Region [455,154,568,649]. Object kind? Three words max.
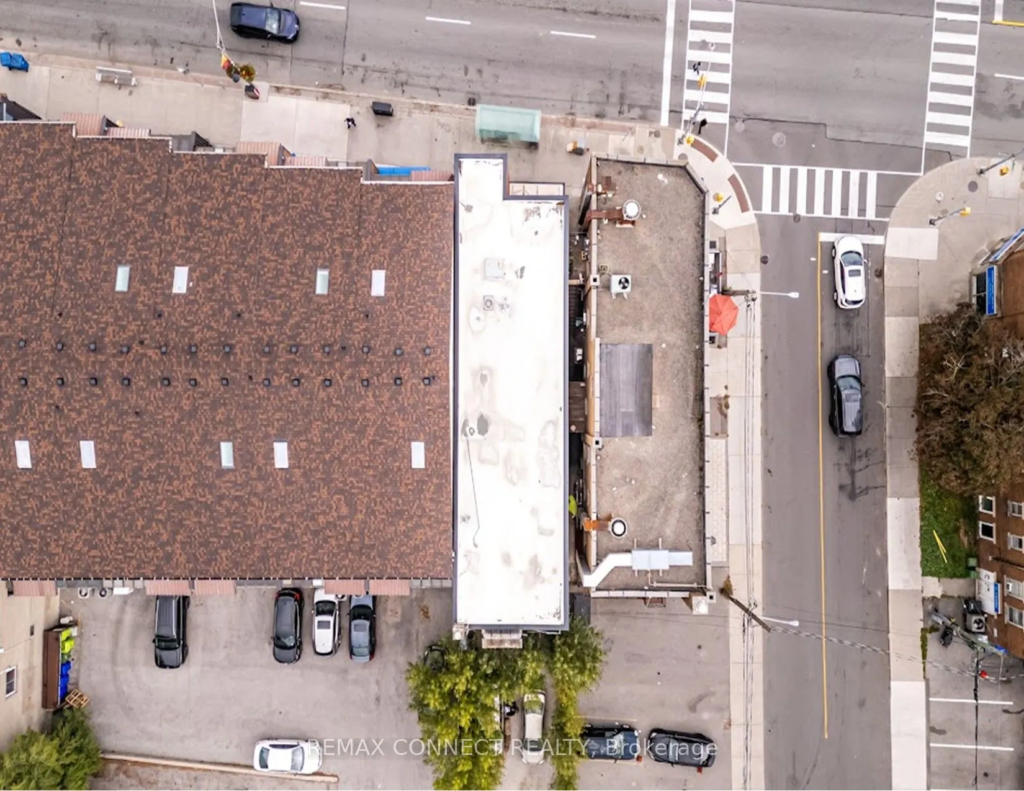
building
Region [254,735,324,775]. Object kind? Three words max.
car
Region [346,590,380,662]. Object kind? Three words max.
car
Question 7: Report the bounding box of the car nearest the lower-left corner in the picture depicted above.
[150,596,193,666]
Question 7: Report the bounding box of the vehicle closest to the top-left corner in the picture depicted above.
[230,4,303,47]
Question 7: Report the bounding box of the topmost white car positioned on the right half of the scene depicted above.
[827,238,868,310]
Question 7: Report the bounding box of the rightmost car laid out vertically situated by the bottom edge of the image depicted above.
[518,689,551,761]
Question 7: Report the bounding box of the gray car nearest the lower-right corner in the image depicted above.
[646,723,717,768]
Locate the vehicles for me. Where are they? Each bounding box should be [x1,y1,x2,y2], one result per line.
[824,357,867,436]
[254,735,324,775]
[518,689,551,761]
[827,238,868,310]
[346,590,380,662]
[574,720,645,762]
[308,589,345,657]
[230,4,303,47]
[150,596,193,666]
[270,588,308,662]
[646,723,717,768]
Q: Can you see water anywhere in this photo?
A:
No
